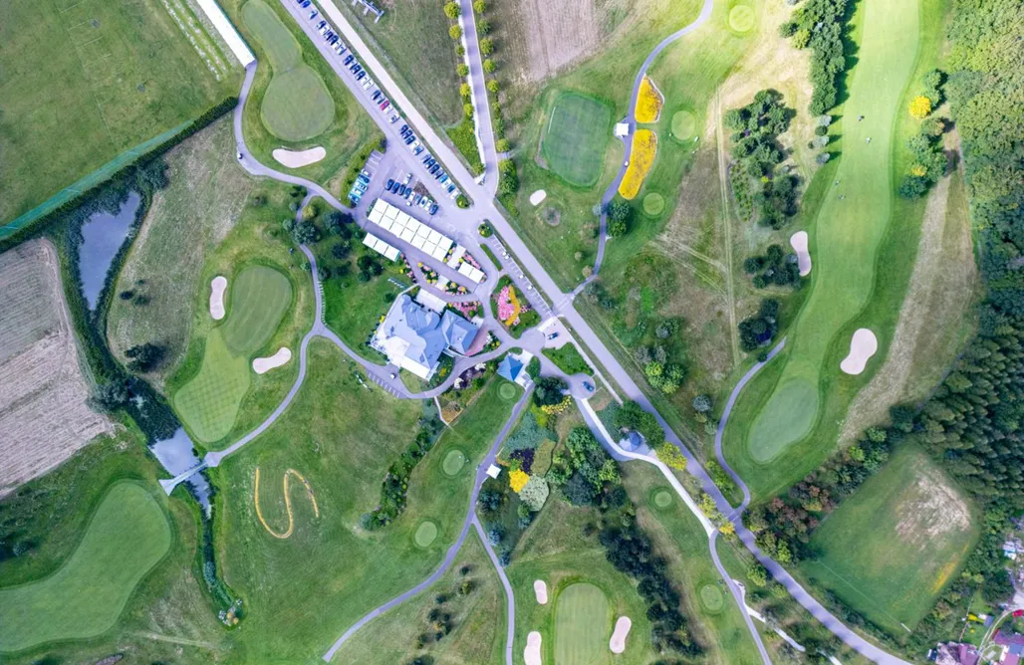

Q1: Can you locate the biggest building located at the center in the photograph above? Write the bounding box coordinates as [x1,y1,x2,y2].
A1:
[369,284,478,382]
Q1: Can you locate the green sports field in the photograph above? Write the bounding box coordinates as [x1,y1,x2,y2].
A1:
[809,443,978,634]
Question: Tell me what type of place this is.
golf course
